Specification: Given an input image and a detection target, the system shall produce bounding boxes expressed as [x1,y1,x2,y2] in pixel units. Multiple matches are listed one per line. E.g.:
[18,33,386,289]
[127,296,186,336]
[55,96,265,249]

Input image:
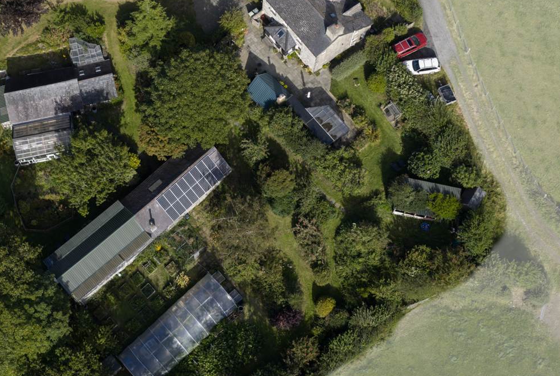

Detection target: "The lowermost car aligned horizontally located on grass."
[404,56,441,75]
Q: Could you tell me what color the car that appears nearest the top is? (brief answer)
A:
red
